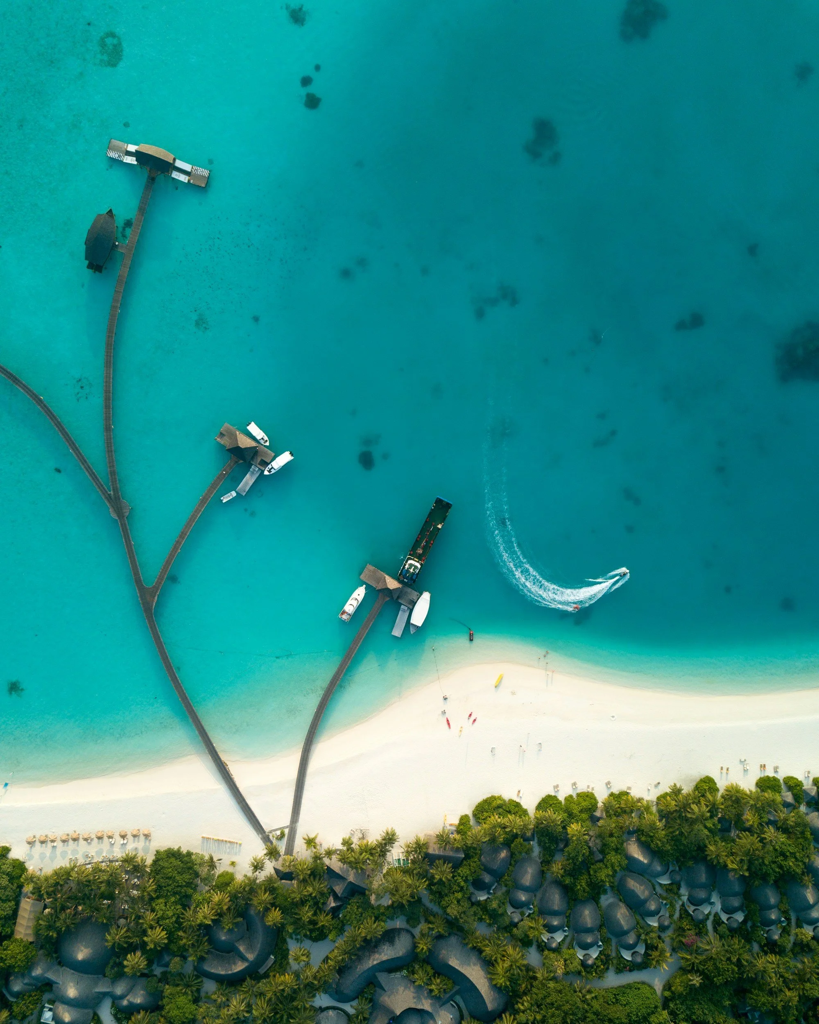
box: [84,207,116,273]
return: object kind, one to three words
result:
boat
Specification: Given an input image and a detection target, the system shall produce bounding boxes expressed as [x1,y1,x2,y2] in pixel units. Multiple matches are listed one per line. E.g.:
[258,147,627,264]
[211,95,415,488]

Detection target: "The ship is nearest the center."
[398,496,453,585]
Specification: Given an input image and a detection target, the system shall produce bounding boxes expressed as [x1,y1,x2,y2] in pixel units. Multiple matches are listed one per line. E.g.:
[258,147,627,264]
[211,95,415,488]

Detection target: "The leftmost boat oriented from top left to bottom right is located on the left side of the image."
[245,420,269,445]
